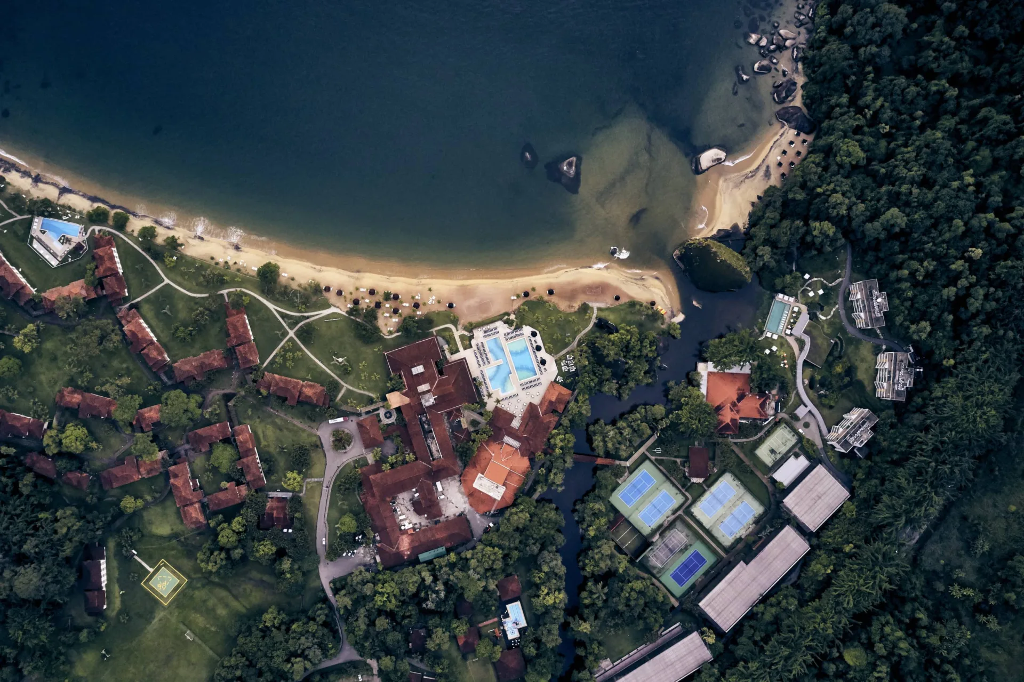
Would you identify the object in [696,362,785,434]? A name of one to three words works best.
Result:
building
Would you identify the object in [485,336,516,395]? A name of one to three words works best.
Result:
swimming pool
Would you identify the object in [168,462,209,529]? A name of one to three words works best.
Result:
house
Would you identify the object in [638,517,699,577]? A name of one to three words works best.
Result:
tennis court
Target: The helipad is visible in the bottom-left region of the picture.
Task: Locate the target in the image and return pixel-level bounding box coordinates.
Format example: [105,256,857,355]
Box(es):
[141,559,188,605]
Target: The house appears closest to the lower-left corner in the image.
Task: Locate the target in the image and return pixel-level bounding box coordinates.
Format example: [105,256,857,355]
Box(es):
[83,542,111,613]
